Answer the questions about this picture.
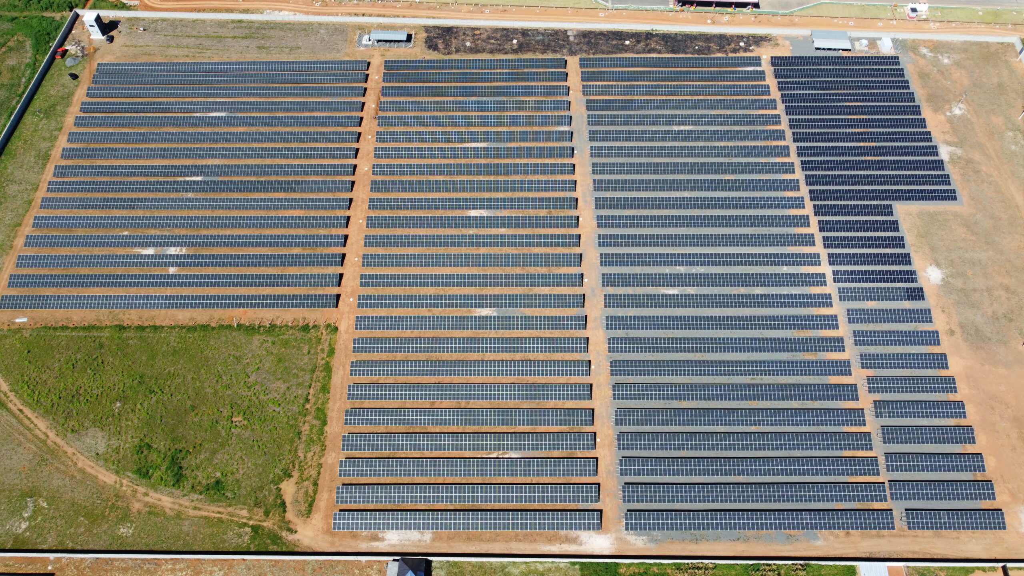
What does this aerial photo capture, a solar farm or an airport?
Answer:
solar farm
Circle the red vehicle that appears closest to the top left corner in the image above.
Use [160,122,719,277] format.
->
[55,44,68,58]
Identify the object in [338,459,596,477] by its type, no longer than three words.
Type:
solar array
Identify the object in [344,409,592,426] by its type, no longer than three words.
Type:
solar array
